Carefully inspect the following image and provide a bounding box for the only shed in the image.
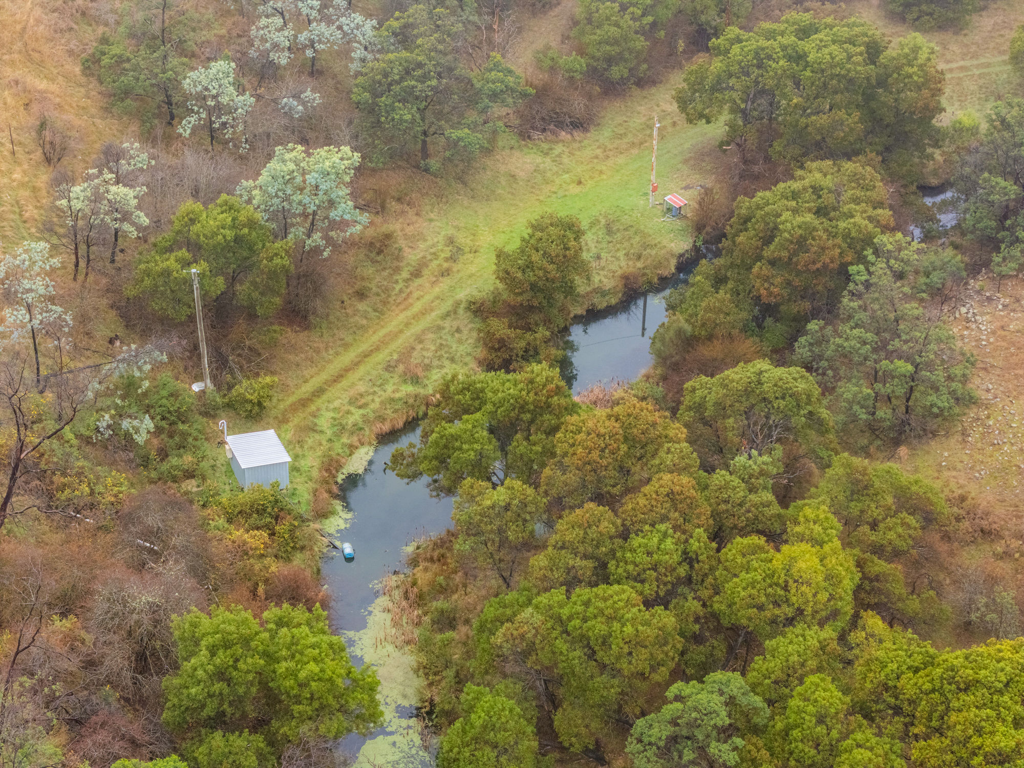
[220,424,292,488]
